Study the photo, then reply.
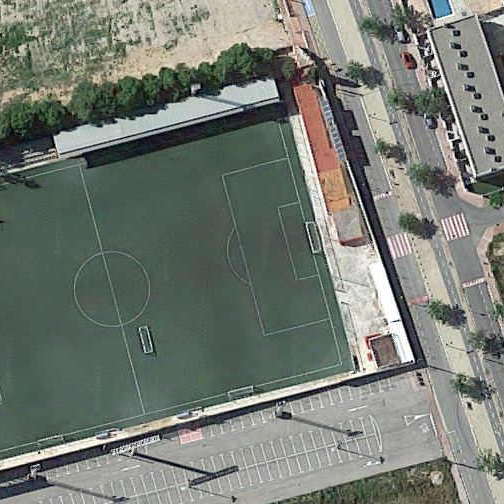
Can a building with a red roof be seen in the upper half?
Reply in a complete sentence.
Yes, in the upper half there is a building with a red roof.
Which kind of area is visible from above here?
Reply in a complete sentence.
It's a sports ground.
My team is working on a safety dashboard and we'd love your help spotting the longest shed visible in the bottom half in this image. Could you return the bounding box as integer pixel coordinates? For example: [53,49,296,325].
[369,263,415,366]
